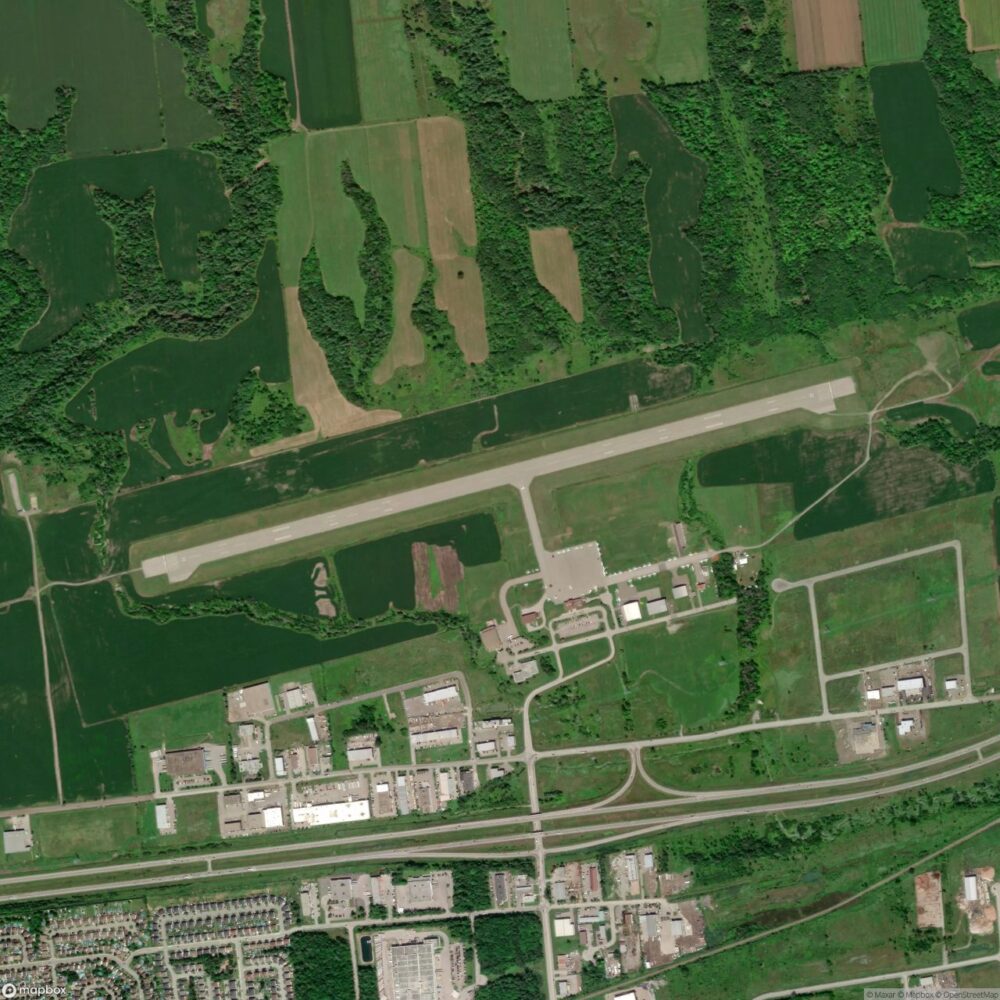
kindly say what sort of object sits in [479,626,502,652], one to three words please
hangar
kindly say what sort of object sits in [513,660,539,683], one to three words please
building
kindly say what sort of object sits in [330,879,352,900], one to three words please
building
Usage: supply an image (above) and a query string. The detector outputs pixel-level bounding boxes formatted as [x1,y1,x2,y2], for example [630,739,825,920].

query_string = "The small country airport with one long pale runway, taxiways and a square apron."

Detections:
[142,376,856,633]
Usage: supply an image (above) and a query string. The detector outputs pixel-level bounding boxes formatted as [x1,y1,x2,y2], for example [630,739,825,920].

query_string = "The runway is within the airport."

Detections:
[142,376,856,582]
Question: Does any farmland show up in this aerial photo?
Yes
